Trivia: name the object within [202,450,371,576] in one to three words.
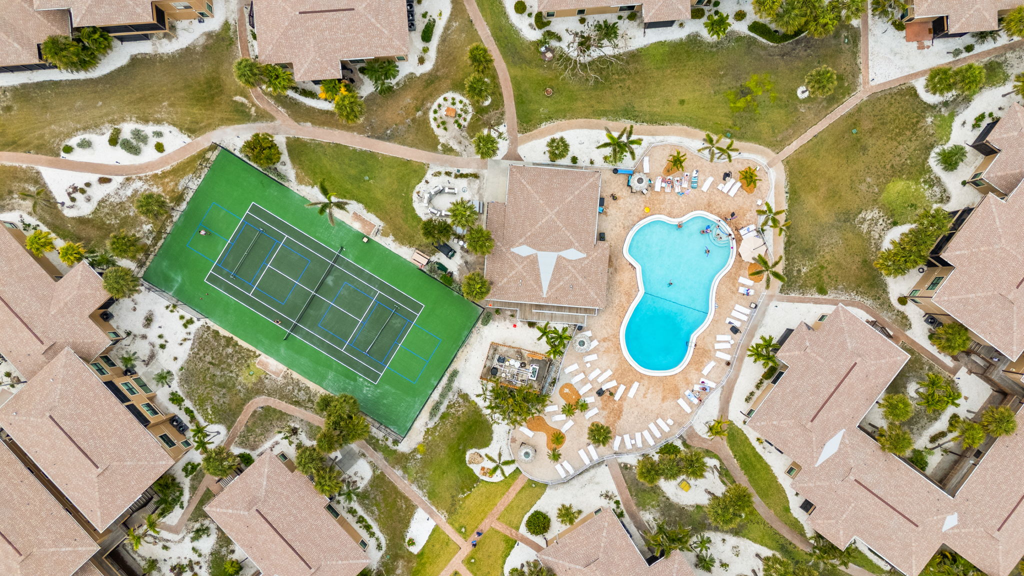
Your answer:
house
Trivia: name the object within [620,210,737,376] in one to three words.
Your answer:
swimming pool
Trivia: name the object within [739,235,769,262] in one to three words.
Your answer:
umbrella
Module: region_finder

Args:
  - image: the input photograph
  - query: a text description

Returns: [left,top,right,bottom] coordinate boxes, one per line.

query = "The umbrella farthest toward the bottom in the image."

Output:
[515,443,538,466]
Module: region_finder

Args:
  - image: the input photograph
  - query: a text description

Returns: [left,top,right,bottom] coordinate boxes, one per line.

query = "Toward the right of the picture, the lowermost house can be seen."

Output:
[538,505,696,576]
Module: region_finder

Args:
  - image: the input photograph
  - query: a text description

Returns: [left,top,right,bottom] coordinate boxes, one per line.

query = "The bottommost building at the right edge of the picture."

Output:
[738,301,1024,576]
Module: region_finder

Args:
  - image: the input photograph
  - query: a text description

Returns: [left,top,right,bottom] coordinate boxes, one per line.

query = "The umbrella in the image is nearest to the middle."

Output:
[571,332,594,353]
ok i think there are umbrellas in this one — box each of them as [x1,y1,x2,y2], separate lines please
[515,443,538,466]
[628,171,652,195]
[571,332,594,353]
[739,235,769,262]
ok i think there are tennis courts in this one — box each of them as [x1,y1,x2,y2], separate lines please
[143,150,483,441]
